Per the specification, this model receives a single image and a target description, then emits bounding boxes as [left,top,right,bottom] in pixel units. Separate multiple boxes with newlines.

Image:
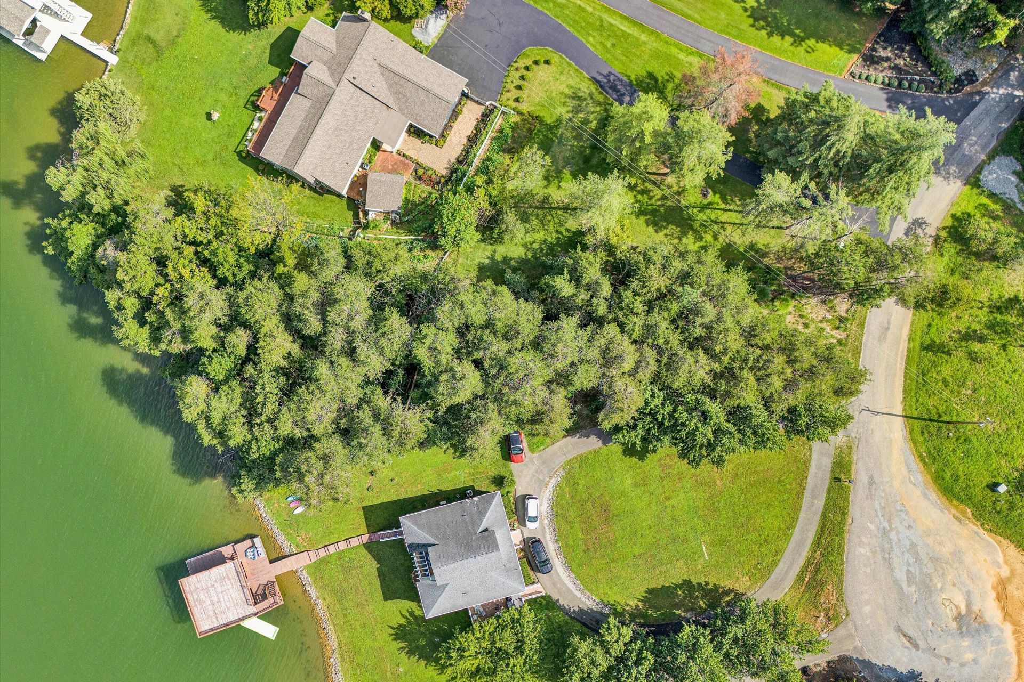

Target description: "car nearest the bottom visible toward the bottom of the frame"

[529,539,551,575]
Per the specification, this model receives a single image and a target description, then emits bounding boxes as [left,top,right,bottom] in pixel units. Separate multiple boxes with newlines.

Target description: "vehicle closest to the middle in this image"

[508,431,525,463]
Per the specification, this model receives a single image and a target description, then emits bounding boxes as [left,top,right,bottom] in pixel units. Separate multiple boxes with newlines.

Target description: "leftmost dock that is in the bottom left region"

[176,534,285,640]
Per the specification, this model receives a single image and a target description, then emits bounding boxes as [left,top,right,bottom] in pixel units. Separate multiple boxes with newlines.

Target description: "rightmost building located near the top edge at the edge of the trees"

[259,11,468,196]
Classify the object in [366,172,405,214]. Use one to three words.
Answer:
shed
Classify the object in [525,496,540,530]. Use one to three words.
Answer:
car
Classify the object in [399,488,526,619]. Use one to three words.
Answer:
house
